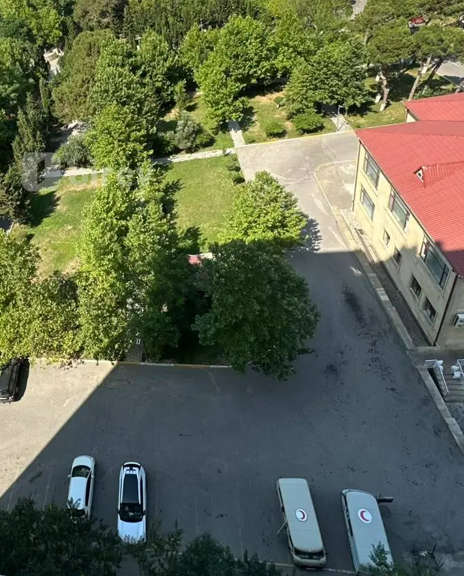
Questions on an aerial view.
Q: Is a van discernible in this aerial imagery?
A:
Yes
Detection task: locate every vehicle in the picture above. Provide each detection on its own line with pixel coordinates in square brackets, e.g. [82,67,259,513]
[279,471,333,570]
[65,460,95,524]
[0,358,24,406]
[115,464,146,543]
[340,482,403,576]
